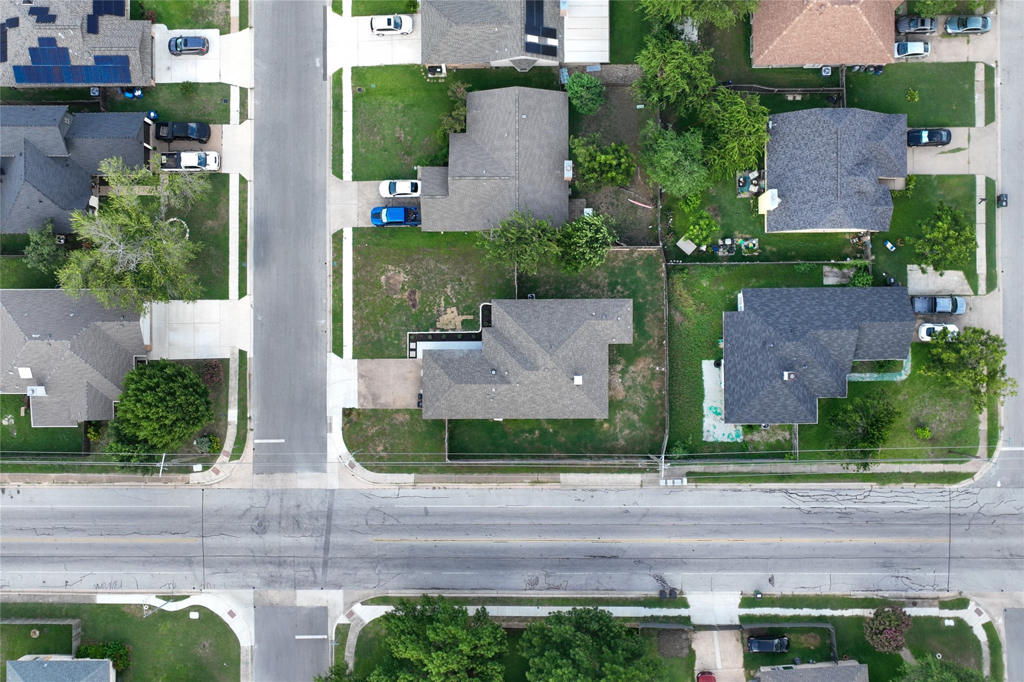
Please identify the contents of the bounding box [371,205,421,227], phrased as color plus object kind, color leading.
blue truck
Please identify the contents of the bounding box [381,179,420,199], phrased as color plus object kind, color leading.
white car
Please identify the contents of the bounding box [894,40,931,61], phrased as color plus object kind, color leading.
white car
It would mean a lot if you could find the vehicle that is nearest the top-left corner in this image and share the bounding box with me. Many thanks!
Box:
[169,35,211,57]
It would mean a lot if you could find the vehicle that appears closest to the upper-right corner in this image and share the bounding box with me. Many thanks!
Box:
[942,15,991,37]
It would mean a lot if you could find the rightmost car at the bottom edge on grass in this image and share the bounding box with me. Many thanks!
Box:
[746,633,788,655]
